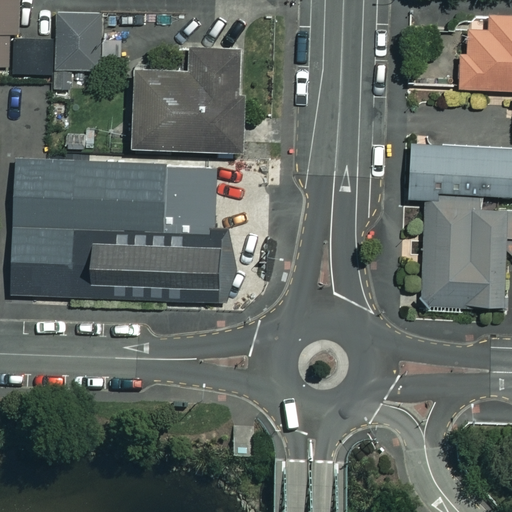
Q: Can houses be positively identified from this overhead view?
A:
Yes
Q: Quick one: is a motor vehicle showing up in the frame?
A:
Yes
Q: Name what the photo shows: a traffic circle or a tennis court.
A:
traffic circle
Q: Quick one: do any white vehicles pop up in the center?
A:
Yes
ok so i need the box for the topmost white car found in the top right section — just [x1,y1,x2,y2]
[374,30,388,58]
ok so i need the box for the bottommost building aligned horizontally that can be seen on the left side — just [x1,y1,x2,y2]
[10,229,237,303]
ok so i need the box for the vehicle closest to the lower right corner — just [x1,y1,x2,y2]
[281,397,298,432]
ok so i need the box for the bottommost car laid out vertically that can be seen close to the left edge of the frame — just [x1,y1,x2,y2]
[7,88,21,120]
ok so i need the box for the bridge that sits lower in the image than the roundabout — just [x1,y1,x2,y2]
[275,441,346,512]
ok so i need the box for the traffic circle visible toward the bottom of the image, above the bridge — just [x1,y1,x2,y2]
[298,340,348,390]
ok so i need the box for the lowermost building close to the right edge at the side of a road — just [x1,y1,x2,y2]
[420,194,507,314]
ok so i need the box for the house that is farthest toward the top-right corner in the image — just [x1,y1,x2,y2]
[458,15,512,92]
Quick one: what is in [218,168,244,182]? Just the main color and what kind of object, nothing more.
red car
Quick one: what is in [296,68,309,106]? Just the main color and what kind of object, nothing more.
white vehicle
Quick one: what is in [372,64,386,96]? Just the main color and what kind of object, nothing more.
white vehicle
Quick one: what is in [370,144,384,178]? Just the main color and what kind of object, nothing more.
white car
